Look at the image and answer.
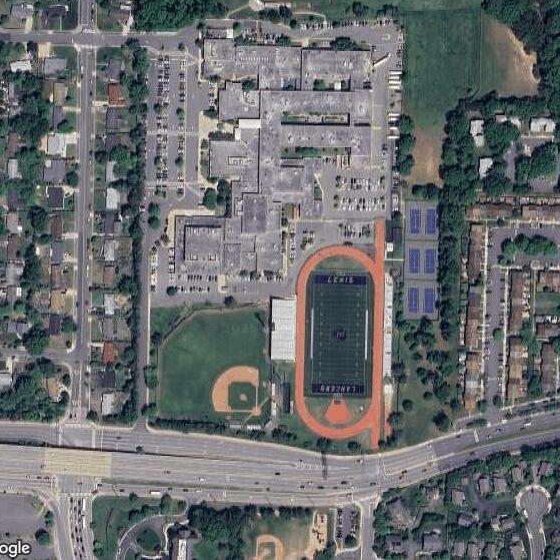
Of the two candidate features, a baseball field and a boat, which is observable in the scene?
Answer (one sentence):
Of the two, only a baseball field appears.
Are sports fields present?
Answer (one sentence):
Yes, you can see a sports field in this photo.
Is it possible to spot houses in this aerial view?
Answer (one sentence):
Yes, there is a house in the image.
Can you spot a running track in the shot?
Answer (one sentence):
Yes, there's a running track here.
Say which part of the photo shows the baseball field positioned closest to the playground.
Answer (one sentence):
The baseball field positioned closest to the playground appears toward the bottom of the photo.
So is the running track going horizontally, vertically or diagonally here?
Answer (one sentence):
In this picture, the running track lies vertically.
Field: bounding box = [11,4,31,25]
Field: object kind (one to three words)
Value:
house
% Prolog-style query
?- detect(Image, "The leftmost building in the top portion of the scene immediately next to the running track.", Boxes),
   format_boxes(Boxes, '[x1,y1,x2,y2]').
[175,39,371,275]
